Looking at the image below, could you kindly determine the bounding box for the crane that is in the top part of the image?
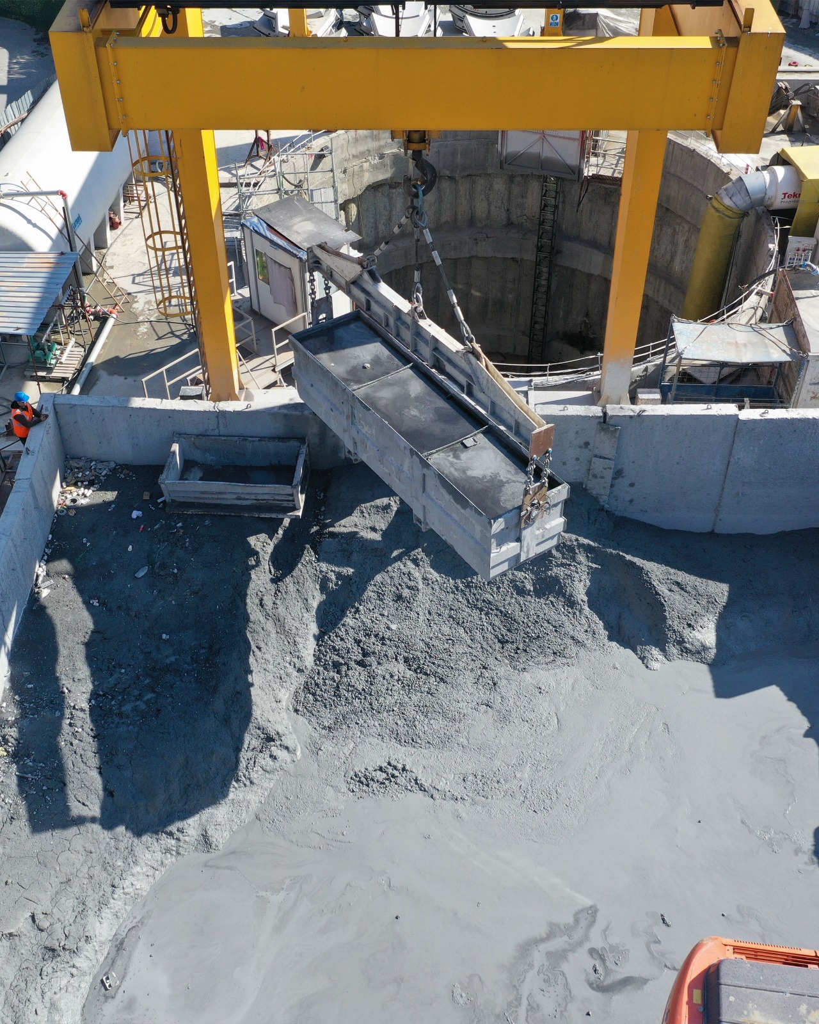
[44,0,793,416]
